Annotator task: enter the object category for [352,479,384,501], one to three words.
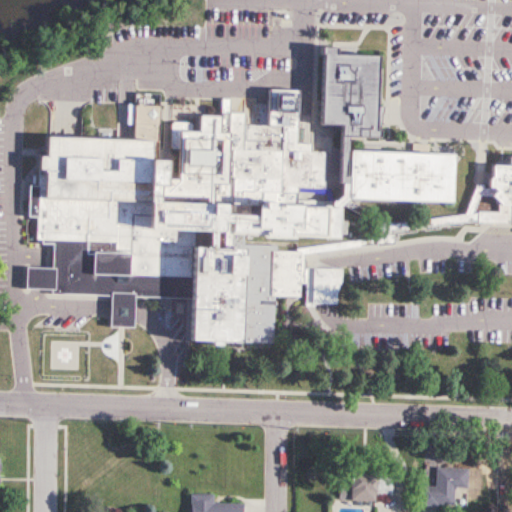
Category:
house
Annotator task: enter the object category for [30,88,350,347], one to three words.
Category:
building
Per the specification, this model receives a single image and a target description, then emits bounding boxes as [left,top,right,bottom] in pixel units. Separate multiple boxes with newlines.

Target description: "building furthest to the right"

[476,157,512,226]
